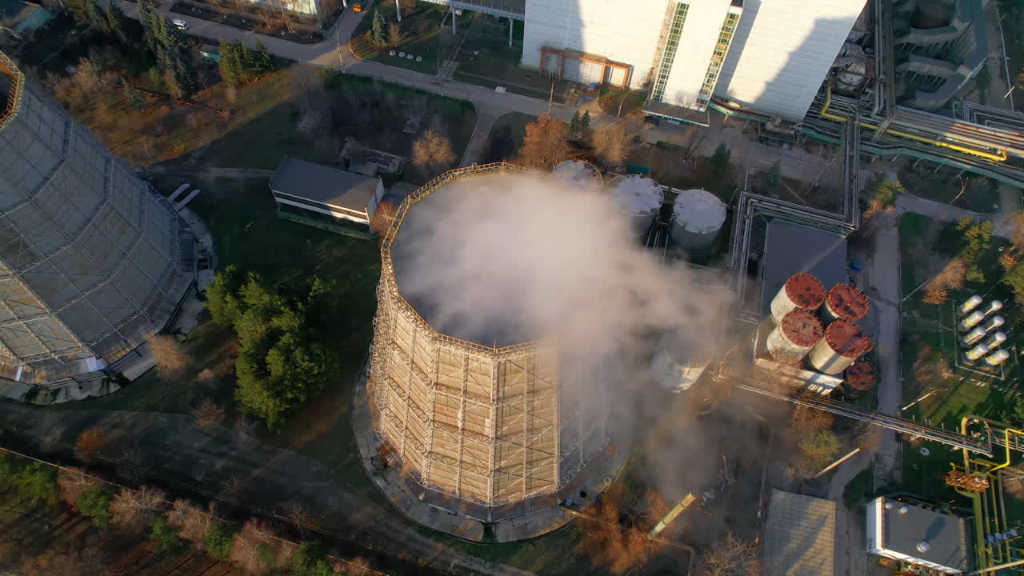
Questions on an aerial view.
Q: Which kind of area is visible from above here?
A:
industrial area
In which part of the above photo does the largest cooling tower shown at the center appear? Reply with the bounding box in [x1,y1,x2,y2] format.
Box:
[346,150,646,542]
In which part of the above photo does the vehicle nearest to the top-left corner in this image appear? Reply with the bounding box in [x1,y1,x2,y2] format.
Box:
[169,16,187,28]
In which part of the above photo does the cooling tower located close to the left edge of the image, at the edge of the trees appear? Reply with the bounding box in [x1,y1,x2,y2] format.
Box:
[0,49,216,408]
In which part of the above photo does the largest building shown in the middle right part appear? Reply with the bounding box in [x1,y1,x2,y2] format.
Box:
[755,218,847,327]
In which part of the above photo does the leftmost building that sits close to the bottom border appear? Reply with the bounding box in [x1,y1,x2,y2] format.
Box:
[757,489,838,576]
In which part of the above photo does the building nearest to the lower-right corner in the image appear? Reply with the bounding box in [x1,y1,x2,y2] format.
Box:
[871,488,974,575]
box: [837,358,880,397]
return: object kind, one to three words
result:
storage tank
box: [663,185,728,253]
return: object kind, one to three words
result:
storage tank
